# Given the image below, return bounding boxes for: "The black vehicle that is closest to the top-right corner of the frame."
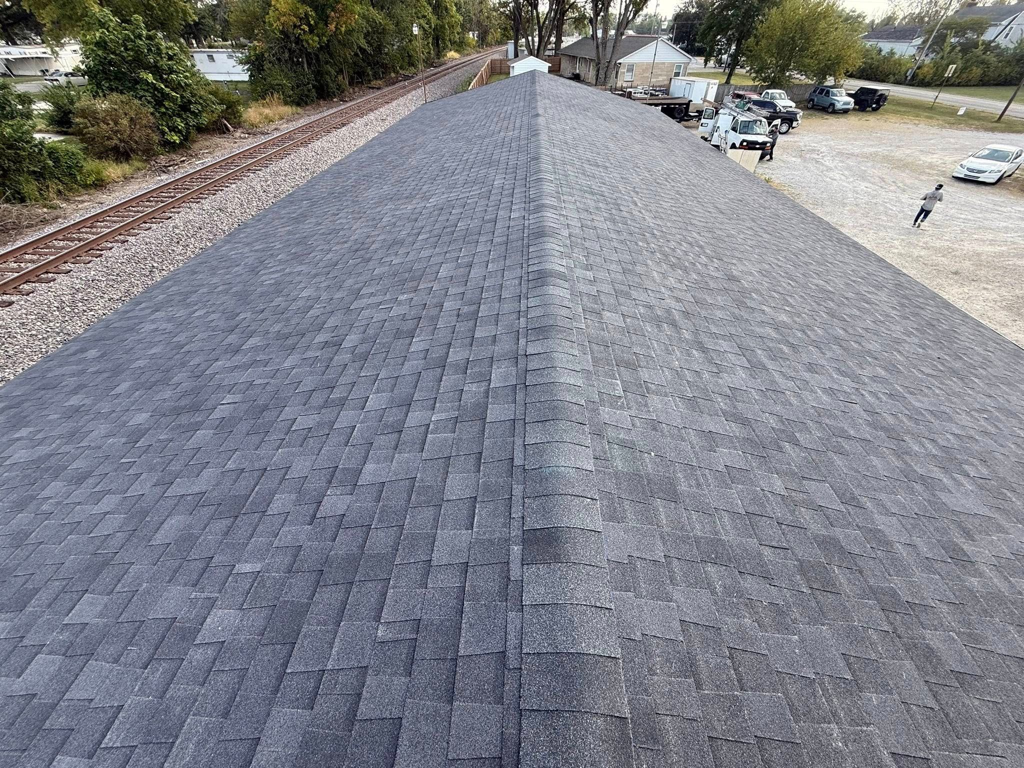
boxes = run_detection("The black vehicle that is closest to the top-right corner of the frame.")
[848,85,889,110]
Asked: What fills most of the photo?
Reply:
buildings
